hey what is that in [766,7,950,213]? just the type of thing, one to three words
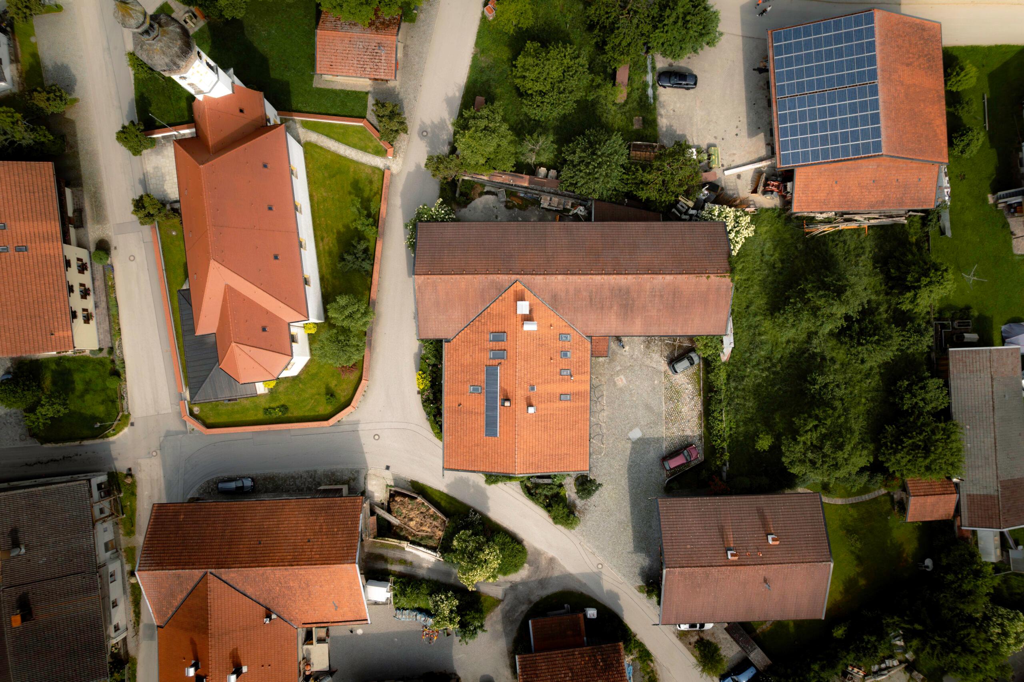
barn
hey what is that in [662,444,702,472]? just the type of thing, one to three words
car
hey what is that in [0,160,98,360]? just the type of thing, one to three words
house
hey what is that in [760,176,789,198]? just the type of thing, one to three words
work vehicle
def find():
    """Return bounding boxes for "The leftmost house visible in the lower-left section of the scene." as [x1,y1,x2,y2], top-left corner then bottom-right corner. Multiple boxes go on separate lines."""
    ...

[0,477,132,682]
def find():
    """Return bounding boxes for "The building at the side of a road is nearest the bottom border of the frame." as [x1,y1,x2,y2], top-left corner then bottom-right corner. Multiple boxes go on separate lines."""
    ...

[516,608,634,682]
